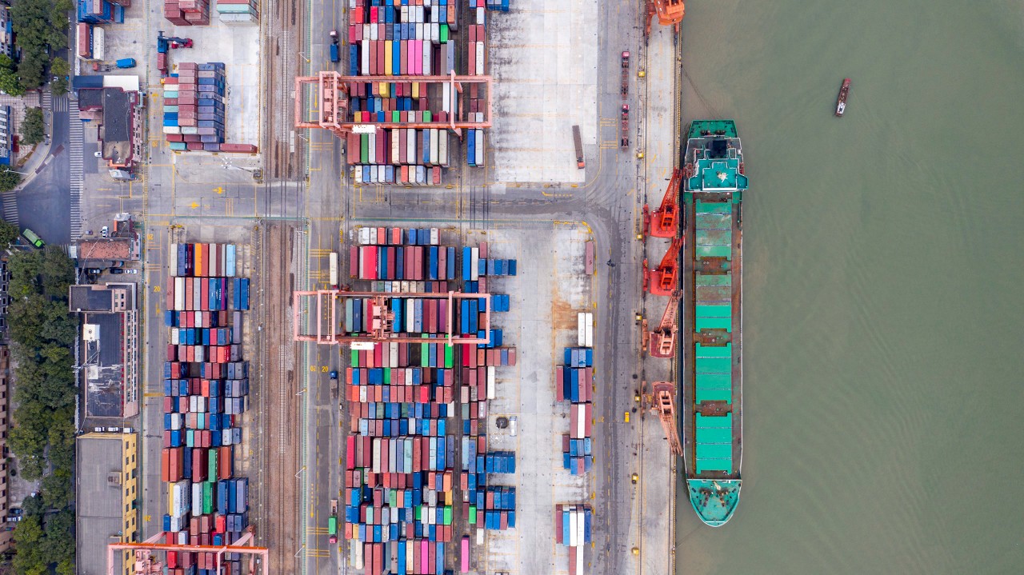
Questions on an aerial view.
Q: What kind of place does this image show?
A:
port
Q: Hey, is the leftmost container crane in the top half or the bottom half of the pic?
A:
bottom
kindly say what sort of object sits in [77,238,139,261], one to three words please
building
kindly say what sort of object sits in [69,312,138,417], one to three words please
building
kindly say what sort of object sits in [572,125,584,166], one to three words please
vehicle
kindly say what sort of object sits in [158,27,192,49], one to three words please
work vehicle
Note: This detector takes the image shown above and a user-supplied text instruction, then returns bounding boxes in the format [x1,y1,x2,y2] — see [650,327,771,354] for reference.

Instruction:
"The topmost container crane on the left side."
[296,70,492,149]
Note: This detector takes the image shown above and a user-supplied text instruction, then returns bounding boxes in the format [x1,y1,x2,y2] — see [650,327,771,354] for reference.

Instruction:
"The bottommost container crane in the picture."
[108,521,271,575]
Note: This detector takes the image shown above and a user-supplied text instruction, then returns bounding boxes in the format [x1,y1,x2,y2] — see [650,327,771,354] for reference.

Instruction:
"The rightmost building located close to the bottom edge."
[76,432,140,575]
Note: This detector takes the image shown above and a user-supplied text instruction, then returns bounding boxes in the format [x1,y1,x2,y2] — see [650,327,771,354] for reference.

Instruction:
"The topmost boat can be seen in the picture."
[834,79,850,116]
